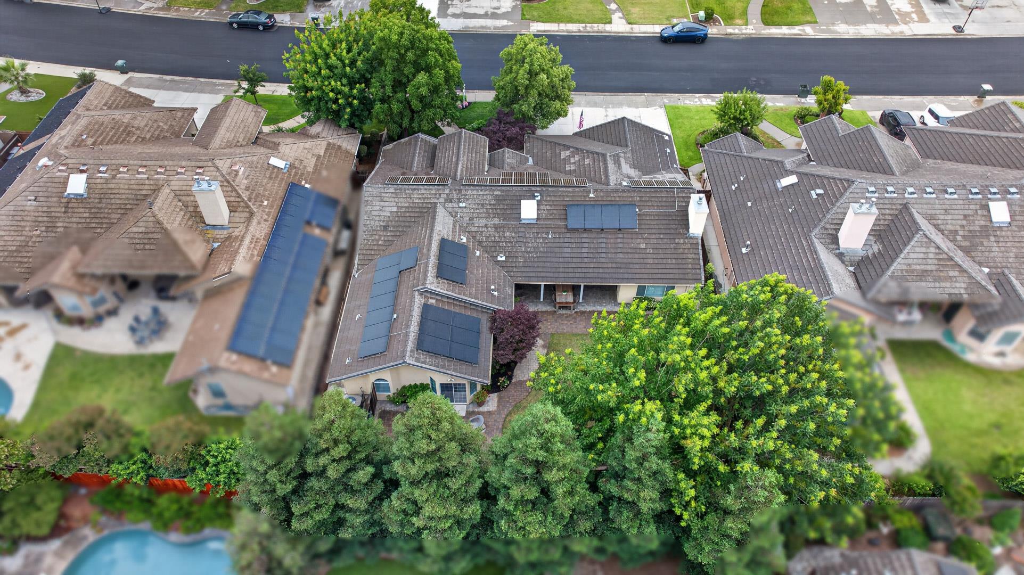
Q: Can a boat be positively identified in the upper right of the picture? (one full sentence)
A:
No, the scene shows no boat in the upper right of the picture.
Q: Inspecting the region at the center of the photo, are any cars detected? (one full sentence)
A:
No, I can find no car at the center of the photo.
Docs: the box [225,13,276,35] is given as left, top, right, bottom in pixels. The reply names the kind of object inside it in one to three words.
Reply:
car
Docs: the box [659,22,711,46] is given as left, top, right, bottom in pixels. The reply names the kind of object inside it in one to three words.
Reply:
car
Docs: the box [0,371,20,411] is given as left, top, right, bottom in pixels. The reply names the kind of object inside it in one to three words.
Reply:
swimming pool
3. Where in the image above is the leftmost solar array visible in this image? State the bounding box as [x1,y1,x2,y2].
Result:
[232,183,337,364]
